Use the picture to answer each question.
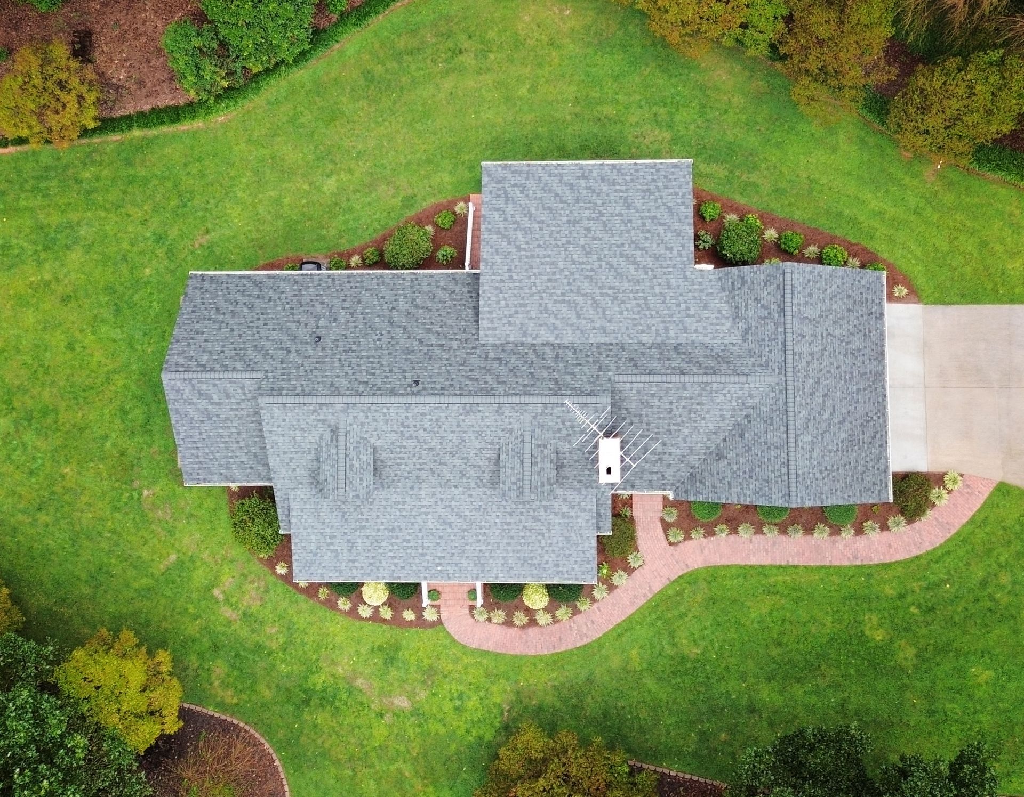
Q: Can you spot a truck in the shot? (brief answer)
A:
No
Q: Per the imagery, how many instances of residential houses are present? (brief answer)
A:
1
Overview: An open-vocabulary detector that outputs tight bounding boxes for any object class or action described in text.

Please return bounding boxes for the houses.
[163,157,894,587]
